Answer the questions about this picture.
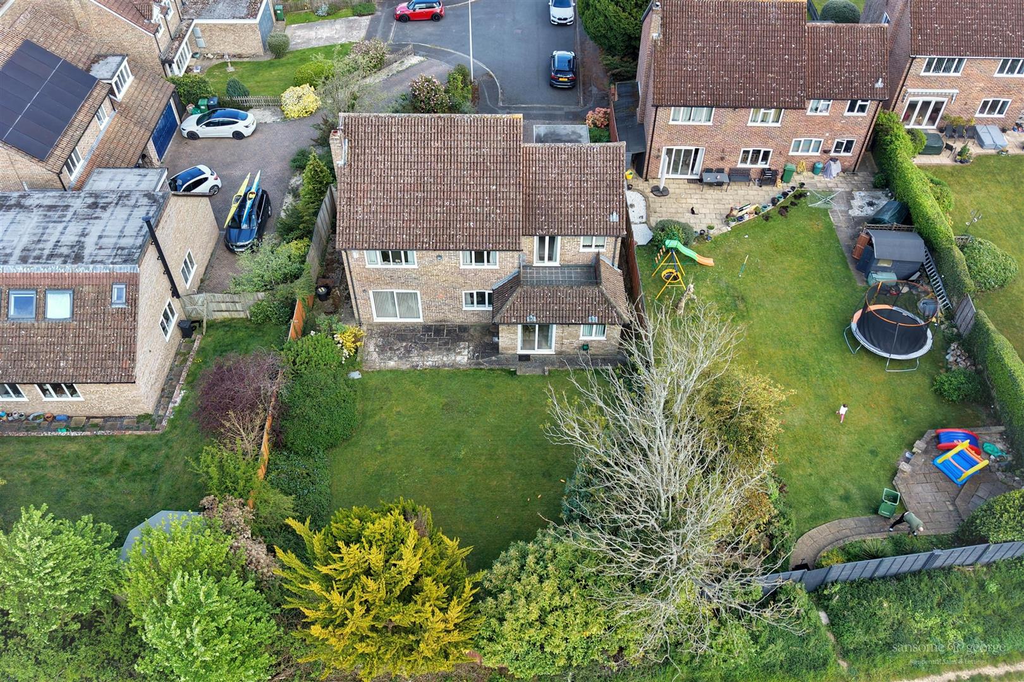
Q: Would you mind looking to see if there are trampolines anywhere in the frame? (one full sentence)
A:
Yes, the picture does show a trampoline.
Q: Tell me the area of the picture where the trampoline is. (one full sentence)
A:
The trampoline appears toward the right of the photo.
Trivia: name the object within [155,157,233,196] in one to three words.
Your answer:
car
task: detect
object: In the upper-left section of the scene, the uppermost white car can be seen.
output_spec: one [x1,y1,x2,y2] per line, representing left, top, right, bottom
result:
[178,105,261,142]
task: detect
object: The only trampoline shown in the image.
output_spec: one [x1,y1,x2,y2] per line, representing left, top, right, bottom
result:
[842,282,941,377]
